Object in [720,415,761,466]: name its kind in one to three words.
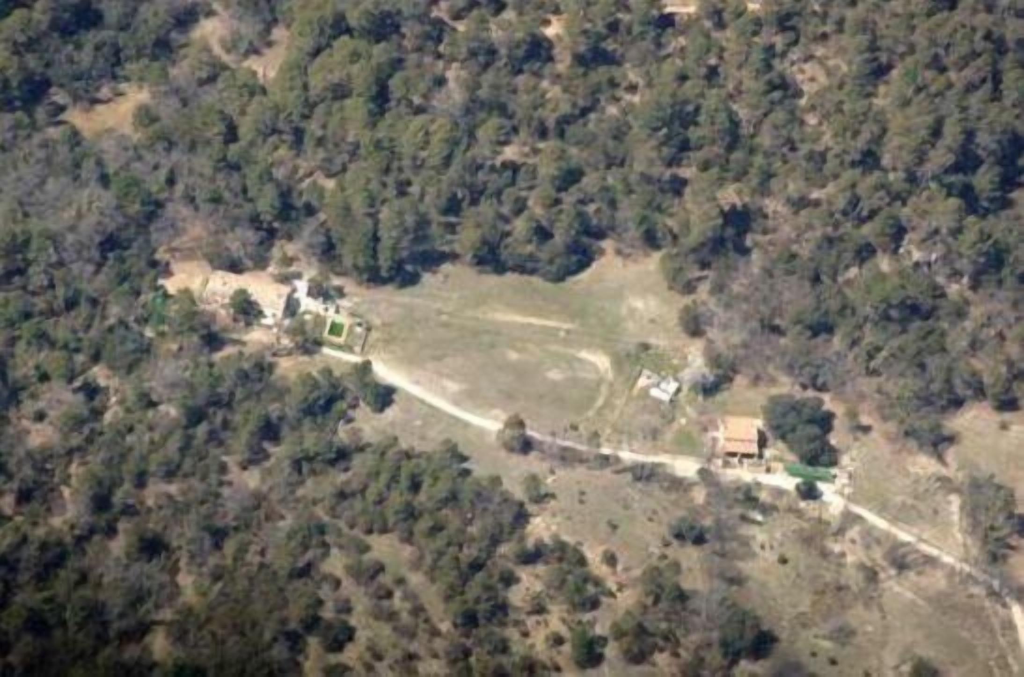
house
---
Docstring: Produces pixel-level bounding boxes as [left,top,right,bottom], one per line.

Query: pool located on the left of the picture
[324,314,351,345]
